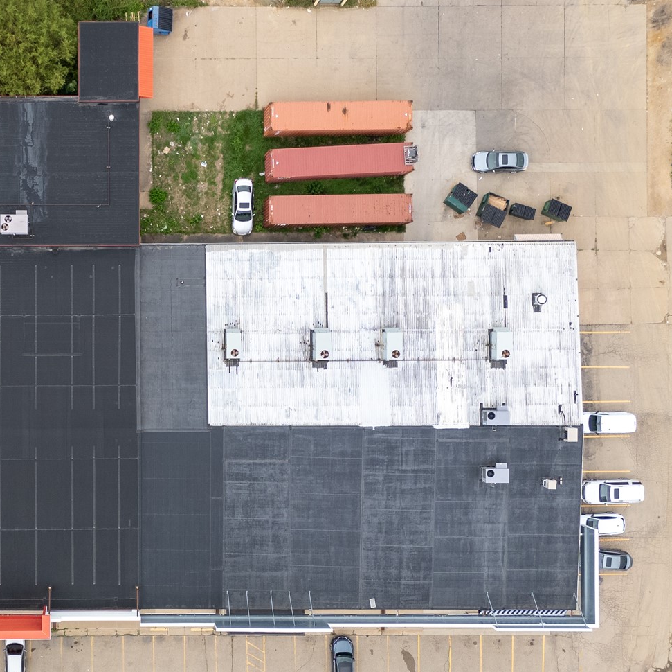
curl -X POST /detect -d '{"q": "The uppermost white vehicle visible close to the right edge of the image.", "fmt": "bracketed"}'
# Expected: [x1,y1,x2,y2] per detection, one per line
[583,411,640,436]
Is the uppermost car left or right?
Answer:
right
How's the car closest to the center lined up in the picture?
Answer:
from top to bottom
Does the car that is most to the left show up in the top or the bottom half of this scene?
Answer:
bottom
